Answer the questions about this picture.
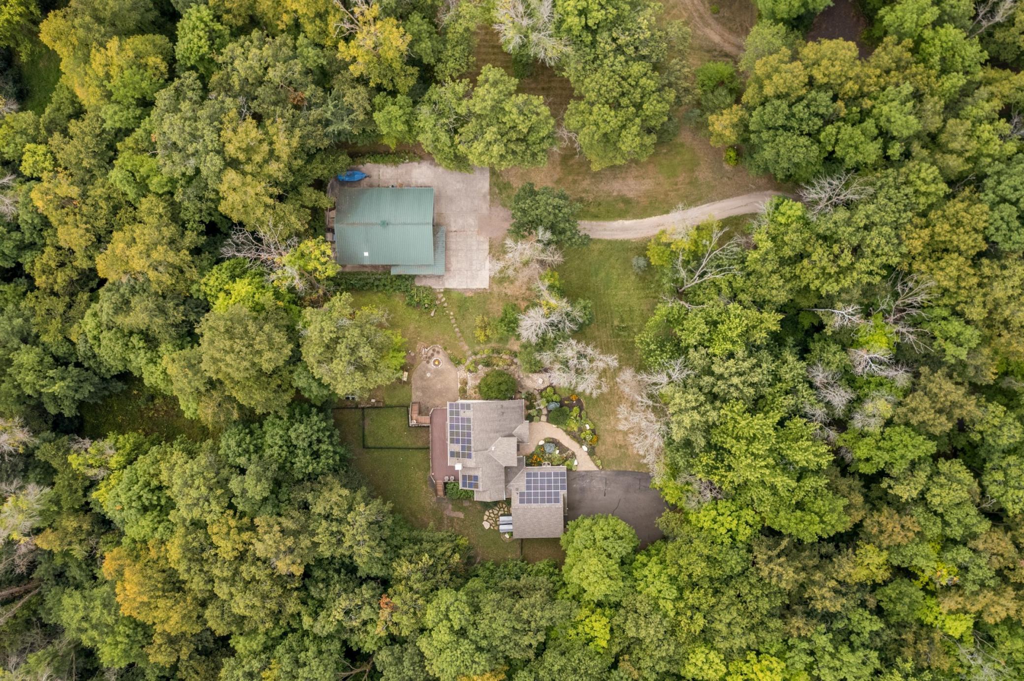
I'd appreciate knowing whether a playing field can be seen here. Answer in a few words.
No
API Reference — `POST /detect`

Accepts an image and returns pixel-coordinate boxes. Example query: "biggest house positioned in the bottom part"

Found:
[447,399,568,539]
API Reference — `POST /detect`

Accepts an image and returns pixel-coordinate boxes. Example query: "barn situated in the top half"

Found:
[334,187,446,275]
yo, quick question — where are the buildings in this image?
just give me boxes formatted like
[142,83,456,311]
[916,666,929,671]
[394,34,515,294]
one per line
[334,187,446,275]
[447,399,568,539]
